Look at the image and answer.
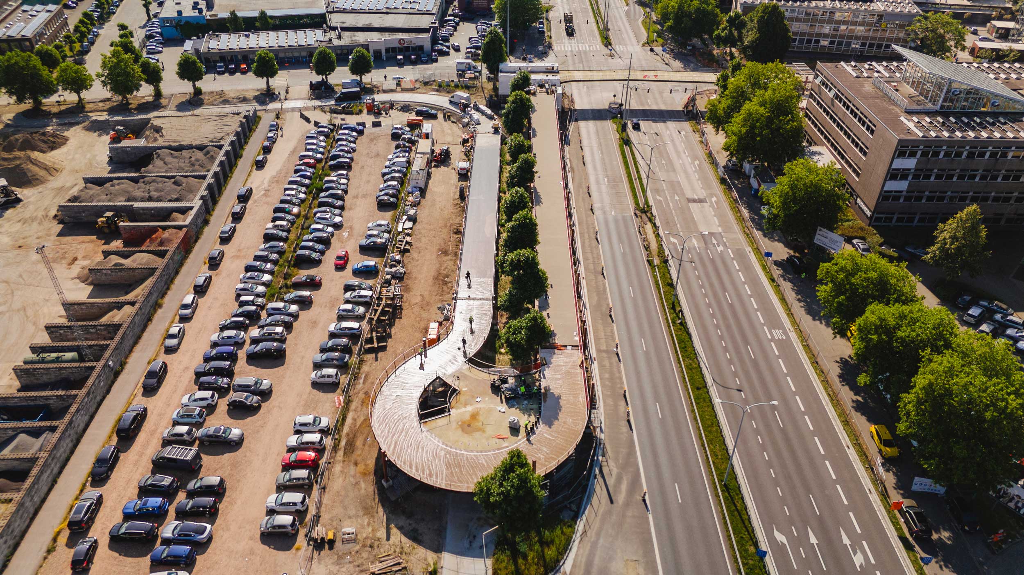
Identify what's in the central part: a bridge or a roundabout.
bridge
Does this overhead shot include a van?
Yes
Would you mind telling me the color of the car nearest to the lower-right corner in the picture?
black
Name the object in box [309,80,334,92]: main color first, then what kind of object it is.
black vehicle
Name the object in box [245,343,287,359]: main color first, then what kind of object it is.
black car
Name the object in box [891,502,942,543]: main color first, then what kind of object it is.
black car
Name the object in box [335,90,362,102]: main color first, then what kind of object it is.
black vehicle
